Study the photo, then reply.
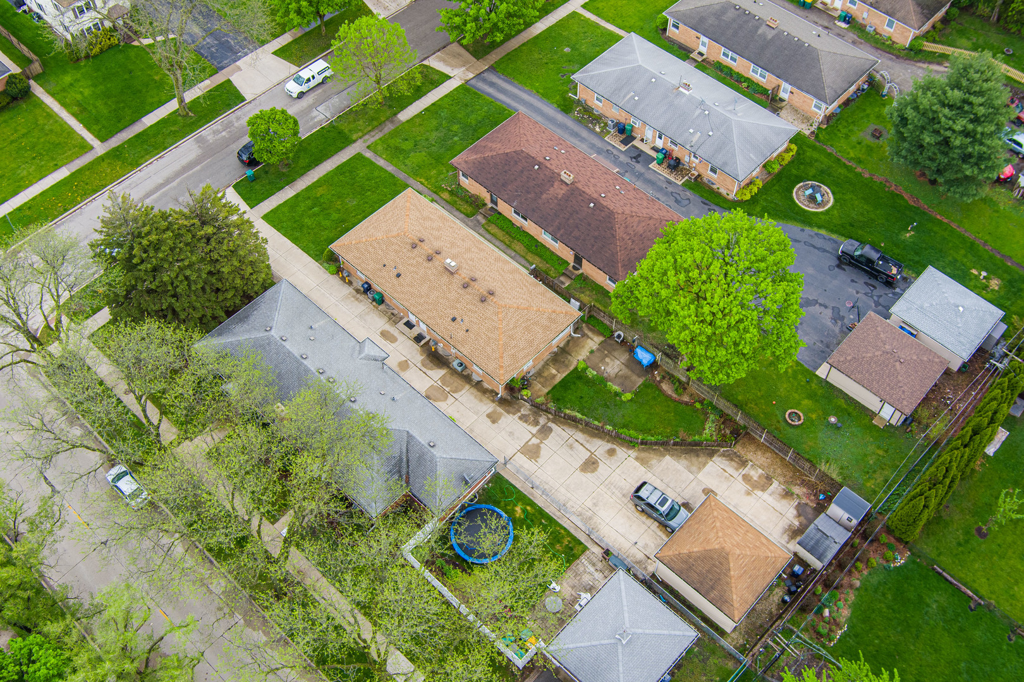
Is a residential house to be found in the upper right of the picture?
Yes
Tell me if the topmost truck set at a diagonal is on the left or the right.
left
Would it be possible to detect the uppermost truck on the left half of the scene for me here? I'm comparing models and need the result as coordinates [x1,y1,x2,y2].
[280,57,335,99]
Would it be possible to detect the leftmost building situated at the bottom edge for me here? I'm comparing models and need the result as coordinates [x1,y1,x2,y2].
[544,565,702,682]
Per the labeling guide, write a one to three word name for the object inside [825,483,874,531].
shed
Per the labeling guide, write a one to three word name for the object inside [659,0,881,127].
house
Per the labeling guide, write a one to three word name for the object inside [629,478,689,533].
car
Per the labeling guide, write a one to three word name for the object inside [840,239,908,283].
truck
